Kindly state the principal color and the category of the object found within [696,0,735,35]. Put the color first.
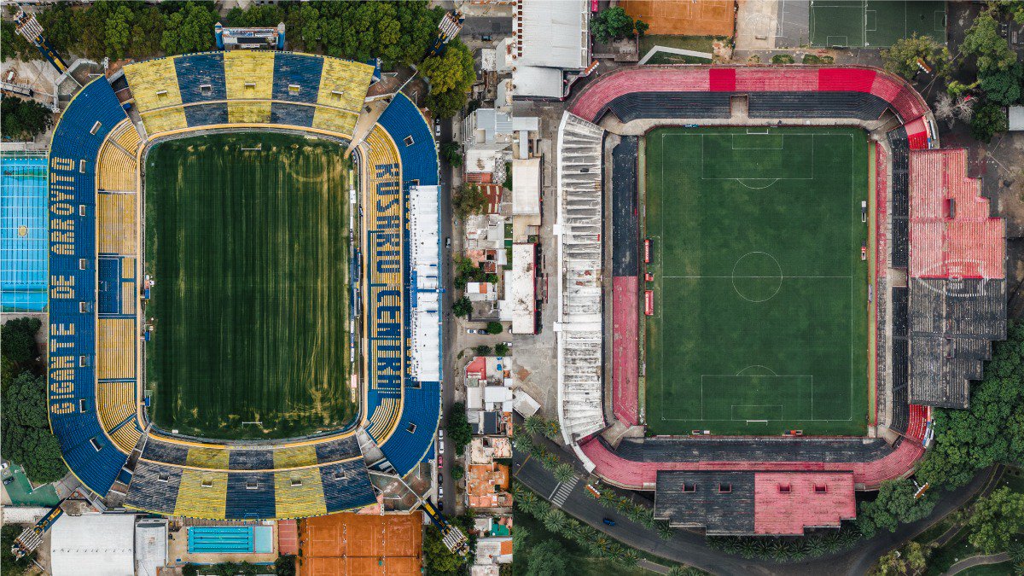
orange tennis court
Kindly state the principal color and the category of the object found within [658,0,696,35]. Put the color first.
orange tennis court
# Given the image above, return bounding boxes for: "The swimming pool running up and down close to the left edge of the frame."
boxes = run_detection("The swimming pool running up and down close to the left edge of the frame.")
[0,158,48,311]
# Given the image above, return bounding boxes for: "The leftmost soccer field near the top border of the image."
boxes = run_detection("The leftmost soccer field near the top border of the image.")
[810,0,863,47]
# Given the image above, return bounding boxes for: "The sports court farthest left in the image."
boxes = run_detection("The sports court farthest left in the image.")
[0,461,56,506]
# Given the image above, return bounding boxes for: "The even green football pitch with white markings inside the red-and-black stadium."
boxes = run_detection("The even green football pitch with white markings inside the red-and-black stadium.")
[646,126,869,436]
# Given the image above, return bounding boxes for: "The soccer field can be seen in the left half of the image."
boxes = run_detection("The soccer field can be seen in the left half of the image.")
[145,133,359,439]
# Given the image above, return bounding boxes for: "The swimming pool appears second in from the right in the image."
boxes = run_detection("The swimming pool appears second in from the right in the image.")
[187,526,255,554]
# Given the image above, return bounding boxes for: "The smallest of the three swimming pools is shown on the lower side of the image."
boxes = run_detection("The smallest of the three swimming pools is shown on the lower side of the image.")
[255,526,273,553]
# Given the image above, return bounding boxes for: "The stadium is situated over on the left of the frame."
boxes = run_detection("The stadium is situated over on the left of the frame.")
[44,49,446,521]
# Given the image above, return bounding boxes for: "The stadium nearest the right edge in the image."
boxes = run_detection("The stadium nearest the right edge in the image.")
[552,62,1008,537]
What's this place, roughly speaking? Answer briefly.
sports ground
